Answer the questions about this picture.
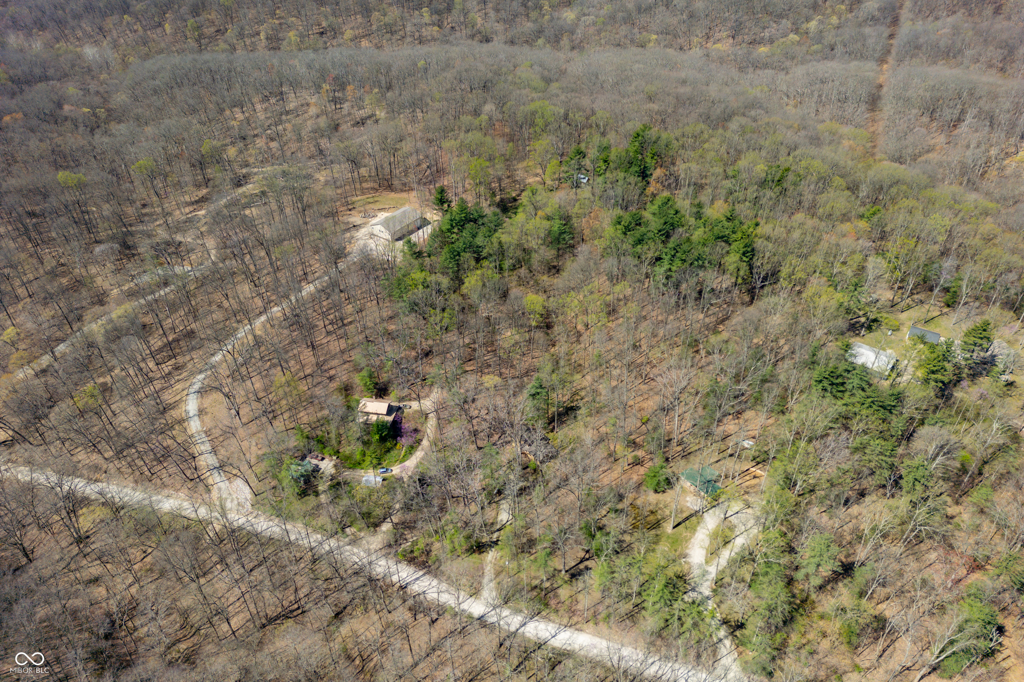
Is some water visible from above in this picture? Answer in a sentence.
No, the picture contains no water.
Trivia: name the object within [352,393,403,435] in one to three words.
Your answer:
house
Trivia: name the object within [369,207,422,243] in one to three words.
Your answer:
barn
